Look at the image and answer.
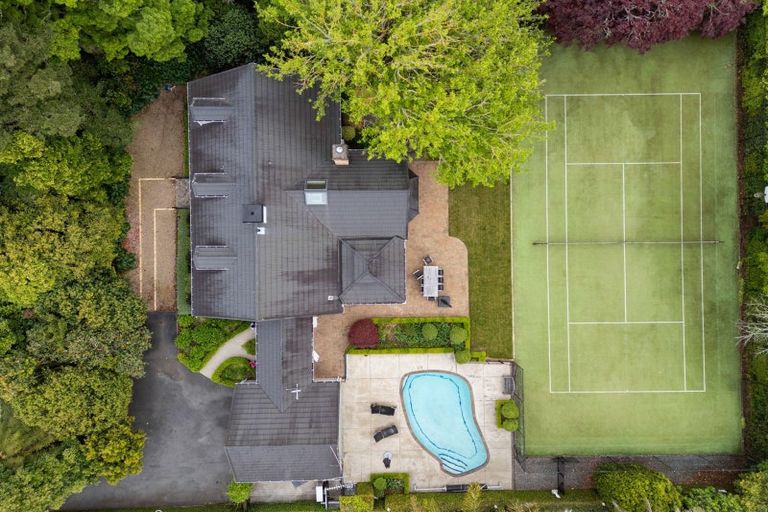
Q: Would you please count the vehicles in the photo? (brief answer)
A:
0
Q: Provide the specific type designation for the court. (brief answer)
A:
tennis court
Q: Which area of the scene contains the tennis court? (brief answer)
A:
right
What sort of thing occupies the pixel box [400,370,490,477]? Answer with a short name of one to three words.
swimming pool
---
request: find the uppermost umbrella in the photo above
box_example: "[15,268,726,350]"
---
[437,295,452,308]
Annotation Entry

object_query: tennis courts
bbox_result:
[512,12,742,457]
